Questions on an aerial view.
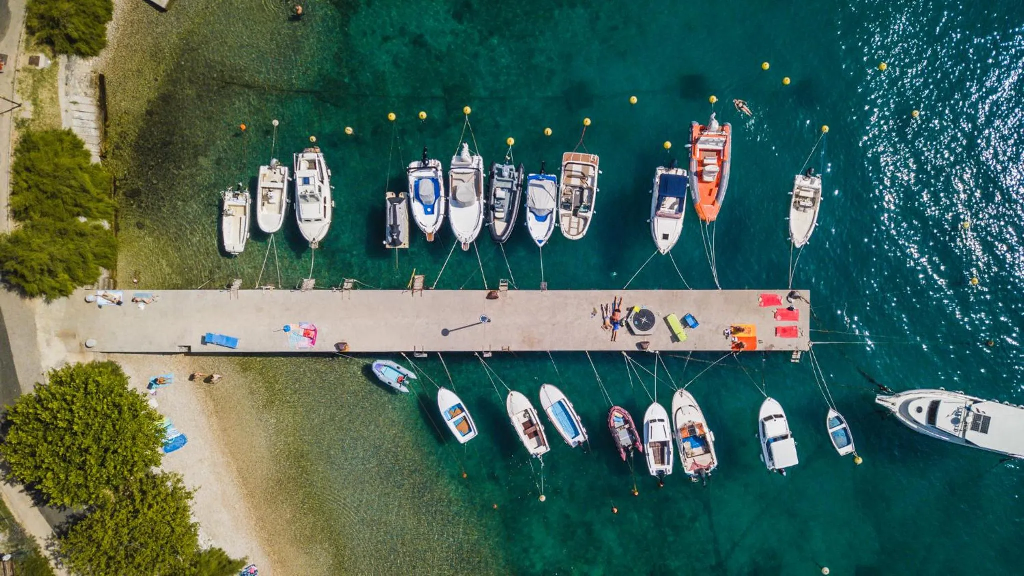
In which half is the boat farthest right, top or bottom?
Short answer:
bottom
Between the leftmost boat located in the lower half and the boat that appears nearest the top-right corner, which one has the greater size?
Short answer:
the boat that appears nearest the top-right corner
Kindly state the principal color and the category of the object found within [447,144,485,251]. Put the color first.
white boat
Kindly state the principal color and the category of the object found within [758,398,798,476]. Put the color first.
white boat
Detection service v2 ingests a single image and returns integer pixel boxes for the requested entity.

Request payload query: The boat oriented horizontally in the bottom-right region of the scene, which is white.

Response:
[875,385,1024,458]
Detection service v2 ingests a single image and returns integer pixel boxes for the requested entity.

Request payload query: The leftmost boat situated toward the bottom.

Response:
[373,359,418,393]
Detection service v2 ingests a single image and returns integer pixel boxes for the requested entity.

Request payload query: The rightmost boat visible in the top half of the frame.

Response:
[784,165,822,248]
